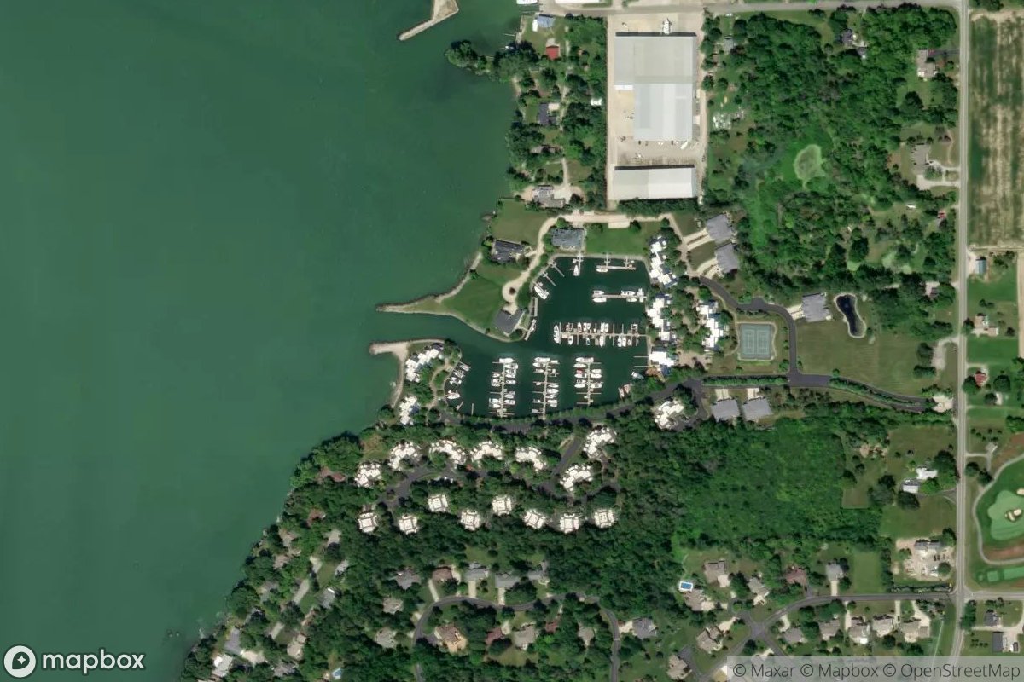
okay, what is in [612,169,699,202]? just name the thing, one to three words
building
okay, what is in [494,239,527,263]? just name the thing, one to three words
house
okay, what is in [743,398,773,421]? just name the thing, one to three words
house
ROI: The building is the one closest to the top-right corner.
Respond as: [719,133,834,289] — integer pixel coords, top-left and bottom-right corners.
[917,50,937,76]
